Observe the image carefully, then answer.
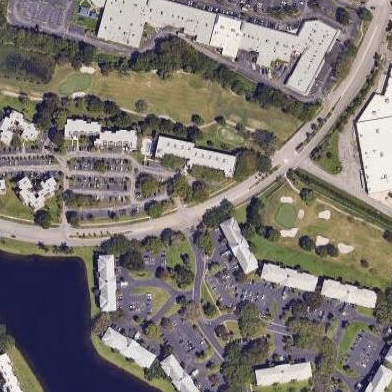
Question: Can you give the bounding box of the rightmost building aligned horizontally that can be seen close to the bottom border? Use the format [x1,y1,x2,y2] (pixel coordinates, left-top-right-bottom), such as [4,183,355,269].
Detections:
[255,362,314,387]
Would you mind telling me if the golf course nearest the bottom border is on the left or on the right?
right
